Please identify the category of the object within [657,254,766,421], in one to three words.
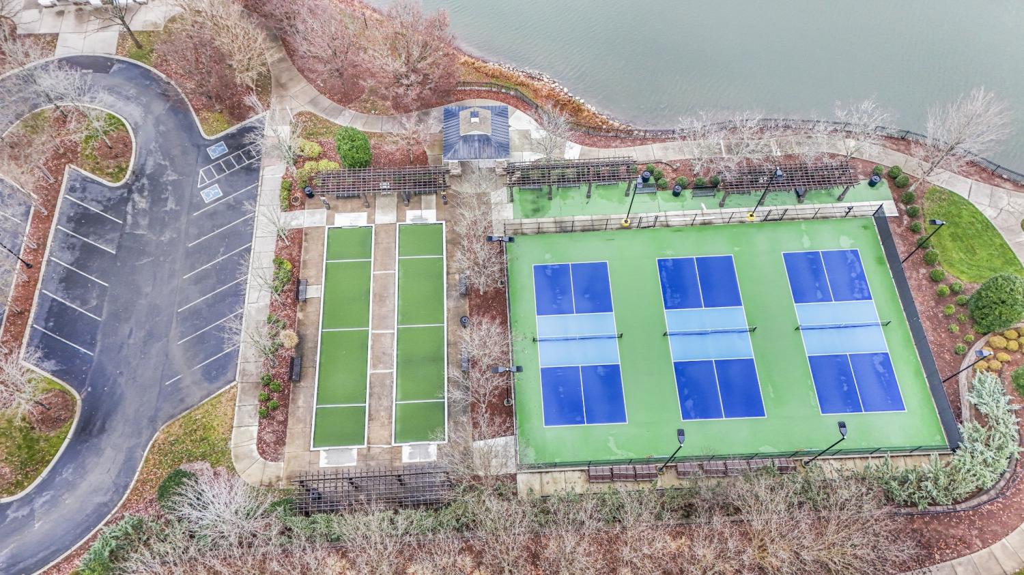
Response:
sports court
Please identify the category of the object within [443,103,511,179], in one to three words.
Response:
building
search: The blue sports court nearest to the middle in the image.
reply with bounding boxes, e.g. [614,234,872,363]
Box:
[533,260,627,428]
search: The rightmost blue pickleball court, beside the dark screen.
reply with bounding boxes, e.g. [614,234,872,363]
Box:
[782,248,906,414]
